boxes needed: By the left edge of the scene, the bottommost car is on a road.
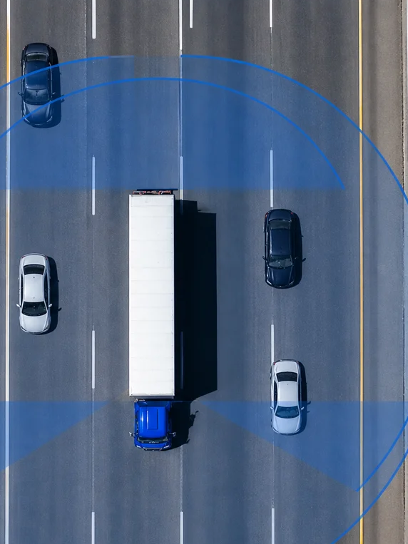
[16,253,52,334]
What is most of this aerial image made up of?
paved ground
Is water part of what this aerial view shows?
No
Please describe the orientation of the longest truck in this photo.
up and down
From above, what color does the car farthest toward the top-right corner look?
black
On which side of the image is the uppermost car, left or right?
left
